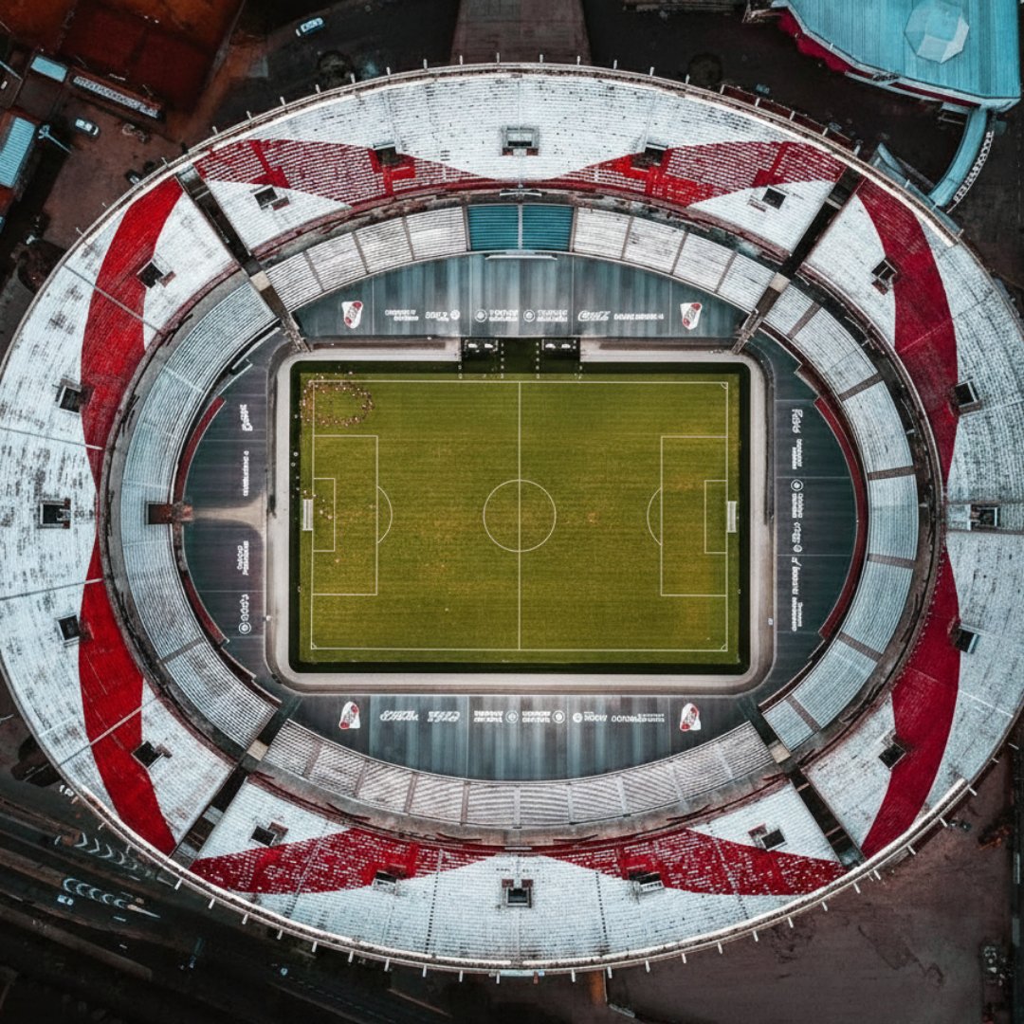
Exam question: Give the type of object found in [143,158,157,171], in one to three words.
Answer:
vehicle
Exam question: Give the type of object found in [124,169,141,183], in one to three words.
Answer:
car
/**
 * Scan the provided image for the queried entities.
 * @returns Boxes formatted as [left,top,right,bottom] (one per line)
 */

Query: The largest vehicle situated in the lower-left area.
[56,895,73,907]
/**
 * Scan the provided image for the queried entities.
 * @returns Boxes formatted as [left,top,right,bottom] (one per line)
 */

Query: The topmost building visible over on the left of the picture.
[31,57,73,89]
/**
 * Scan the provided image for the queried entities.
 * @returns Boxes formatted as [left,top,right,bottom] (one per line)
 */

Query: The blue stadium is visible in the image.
[760,0,1022,119]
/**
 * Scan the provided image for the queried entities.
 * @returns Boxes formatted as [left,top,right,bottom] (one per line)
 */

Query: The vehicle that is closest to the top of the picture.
[295,15,323,35]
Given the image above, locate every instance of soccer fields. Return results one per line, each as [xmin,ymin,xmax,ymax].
[290,338,751,673]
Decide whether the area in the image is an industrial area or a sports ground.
sports ground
